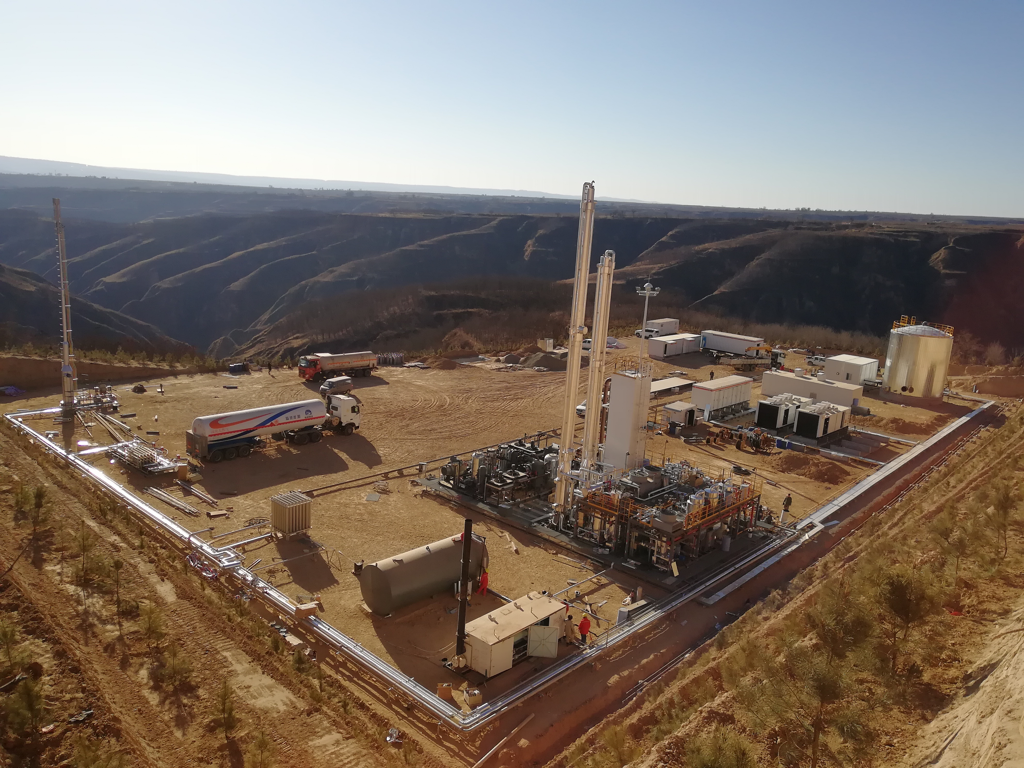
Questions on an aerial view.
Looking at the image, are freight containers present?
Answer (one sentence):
Yes, the frame does contain a freight container.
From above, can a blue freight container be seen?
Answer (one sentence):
No, no blue freight container is visible in the scene.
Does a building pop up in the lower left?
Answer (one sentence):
No, in the lower left there is no building.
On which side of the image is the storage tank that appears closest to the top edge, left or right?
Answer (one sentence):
The storage tank that appears closest to the top edge sits on the right side.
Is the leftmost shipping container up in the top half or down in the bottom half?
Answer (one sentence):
You can find the leftmost shipping container in the bottom half.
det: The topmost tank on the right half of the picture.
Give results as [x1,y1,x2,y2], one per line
[877,319,956,408]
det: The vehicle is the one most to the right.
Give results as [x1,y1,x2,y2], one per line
[800,351,832,364]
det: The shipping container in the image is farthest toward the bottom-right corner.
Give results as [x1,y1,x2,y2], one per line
[693,372,753,411]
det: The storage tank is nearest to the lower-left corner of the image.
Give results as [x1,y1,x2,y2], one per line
[362,530,489,618]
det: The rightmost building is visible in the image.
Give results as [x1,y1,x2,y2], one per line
[827,353,882,384]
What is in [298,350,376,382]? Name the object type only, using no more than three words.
truck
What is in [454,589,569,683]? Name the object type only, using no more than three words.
shipping container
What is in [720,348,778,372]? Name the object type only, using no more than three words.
truck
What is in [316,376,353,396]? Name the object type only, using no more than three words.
vehicle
